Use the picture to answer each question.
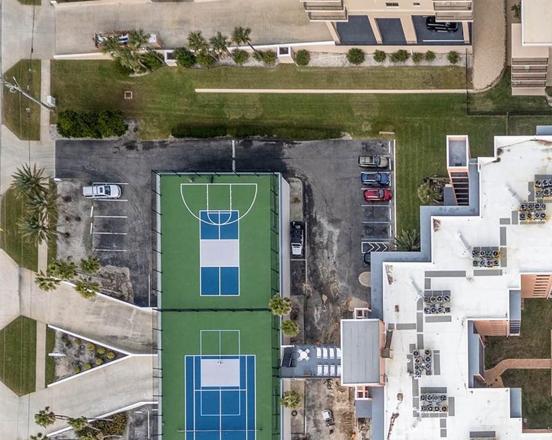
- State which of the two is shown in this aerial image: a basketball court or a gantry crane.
basketball court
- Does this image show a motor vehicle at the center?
Yes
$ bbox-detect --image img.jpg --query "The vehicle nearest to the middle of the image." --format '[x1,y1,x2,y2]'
[289,222,305,254]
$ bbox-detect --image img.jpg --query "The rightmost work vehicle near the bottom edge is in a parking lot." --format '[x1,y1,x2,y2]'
[319,410,337,433]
